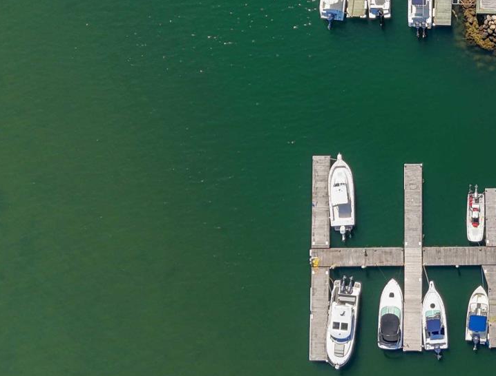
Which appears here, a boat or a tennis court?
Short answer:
boat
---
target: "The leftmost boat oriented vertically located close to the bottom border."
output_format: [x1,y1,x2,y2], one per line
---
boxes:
[327,268,362,372]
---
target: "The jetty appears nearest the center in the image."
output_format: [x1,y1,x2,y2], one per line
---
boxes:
[311,155,331,248]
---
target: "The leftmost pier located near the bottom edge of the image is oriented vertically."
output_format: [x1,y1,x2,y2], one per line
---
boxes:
[308,267,330,362]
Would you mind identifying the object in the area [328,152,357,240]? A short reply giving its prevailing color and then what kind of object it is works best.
white boat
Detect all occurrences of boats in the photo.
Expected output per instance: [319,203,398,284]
[377,267,405,350]
[328,152,357,240]
[422,266,447,363]
[367,0,390,29]
[465,181,487,246]
[408,0,433,39]
[466,280,491,354]
[319,0,349,32]
[327,268,362,372]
